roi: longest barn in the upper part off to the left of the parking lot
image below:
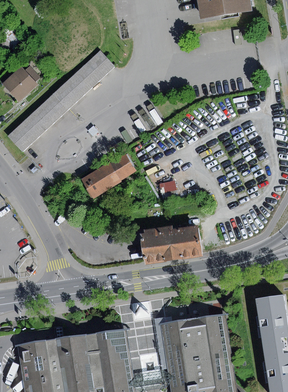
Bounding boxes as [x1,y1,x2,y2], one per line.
[7,51,114,152]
